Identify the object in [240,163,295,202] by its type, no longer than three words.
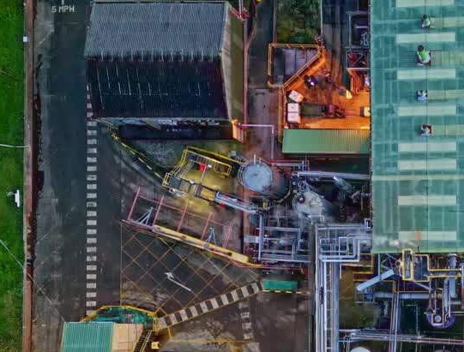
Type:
storage tank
